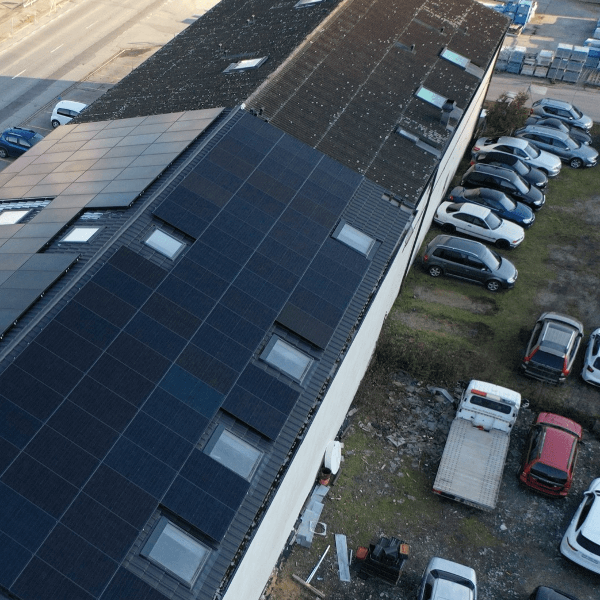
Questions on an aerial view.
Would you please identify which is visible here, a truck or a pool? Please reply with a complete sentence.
This aerial view contains a truck.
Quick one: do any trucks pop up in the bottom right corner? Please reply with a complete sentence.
Yes, a truck is visible in the bottom right corner.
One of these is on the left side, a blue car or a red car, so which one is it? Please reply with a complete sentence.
It is a blue car that can be seen on the left side.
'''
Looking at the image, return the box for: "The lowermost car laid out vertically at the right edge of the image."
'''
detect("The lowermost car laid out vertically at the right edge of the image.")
[555,478,600,583]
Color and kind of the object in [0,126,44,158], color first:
blue car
